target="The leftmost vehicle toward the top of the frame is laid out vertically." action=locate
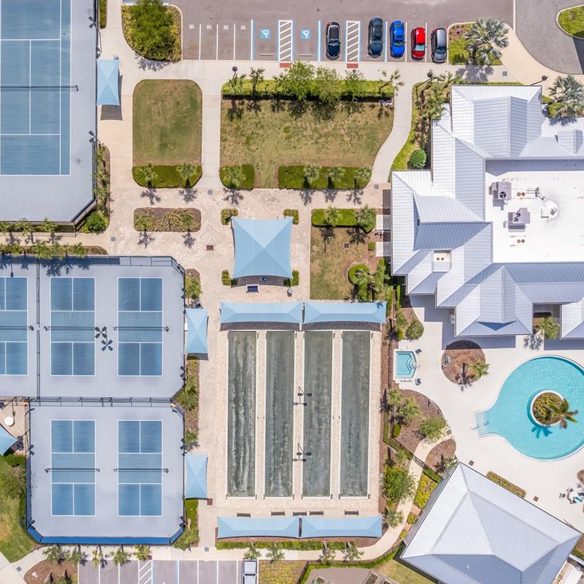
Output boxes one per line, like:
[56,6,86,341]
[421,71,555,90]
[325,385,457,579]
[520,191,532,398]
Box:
[325,21,342,60]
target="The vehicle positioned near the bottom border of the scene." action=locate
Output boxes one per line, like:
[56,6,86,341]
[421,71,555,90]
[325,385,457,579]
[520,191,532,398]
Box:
[241,560,257,584]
